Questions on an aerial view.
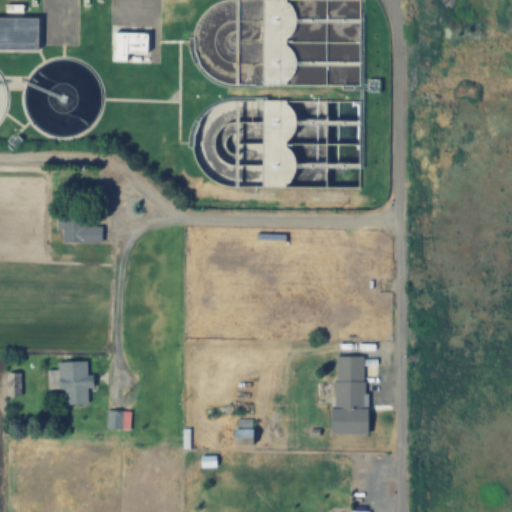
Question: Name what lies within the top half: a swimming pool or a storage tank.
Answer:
storage tank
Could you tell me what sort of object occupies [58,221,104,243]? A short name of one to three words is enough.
house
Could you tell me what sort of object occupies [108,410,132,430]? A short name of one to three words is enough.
building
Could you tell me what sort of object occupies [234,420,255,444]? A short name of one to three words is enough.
barn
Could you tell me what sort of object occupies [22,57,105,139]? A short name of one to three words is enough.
storage tank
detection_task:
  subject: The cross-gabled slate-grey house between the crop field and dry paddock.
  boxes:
[58,362,94,406]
